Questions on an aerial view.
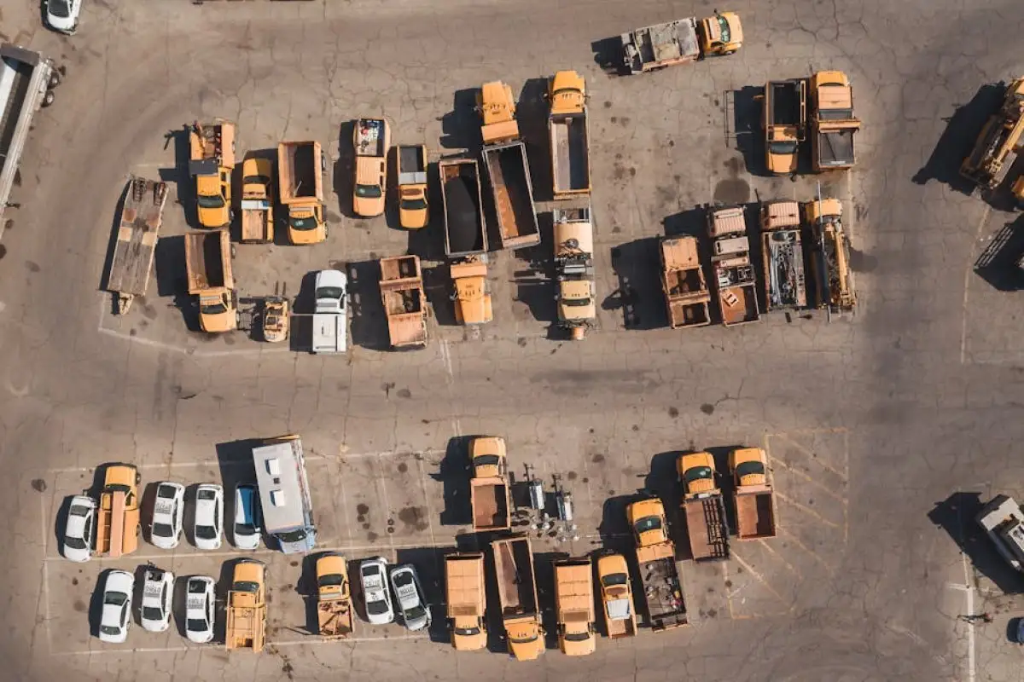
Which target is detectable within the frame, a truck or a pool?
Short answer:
truck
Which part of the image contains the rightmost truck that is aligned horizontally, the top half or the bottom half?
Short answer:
top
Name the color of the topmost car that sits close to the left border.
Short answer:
white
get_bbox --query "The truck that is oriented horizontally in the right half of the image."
[623,9,743,72]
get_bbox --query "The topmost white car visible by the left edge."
[47,0,84,34]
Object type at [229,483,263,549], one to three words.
car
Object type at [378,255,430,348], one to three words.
truck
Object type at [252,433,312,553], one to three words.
van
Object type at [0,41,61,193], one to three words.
trailer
